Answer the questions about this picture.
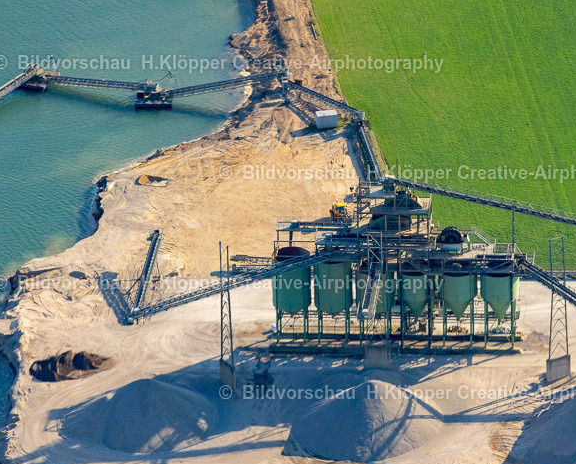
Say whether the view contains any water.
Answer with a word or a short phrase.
Yes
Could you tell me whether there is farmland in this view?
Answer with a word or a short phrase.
Yes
